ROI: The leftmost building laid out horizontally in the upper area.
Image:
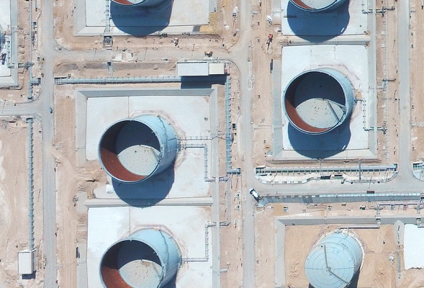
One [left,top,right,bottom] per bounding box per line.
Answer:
[177,61,212,76]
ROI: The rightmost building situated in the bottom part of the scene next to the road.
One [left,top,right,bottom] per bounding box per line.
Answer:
[19,250,39,274]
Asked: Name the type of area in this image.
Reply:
industrial area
